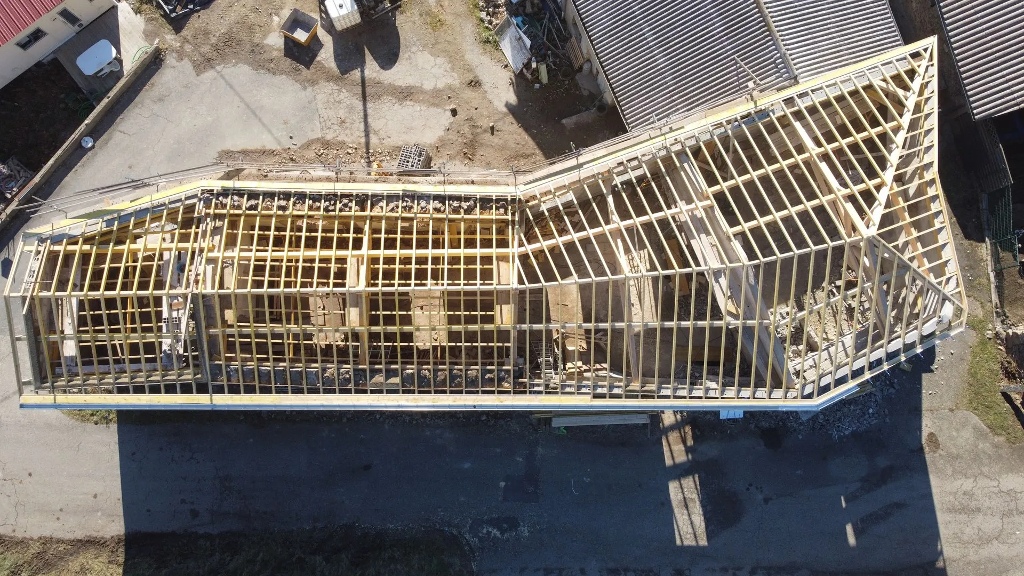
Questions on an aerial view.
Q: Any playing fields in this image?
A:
No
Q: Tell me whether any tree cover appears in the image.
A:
No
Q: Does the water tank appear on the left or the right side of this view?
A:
left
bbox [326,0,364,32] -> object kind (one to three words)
water tank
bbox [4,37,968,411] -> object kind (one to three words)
house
